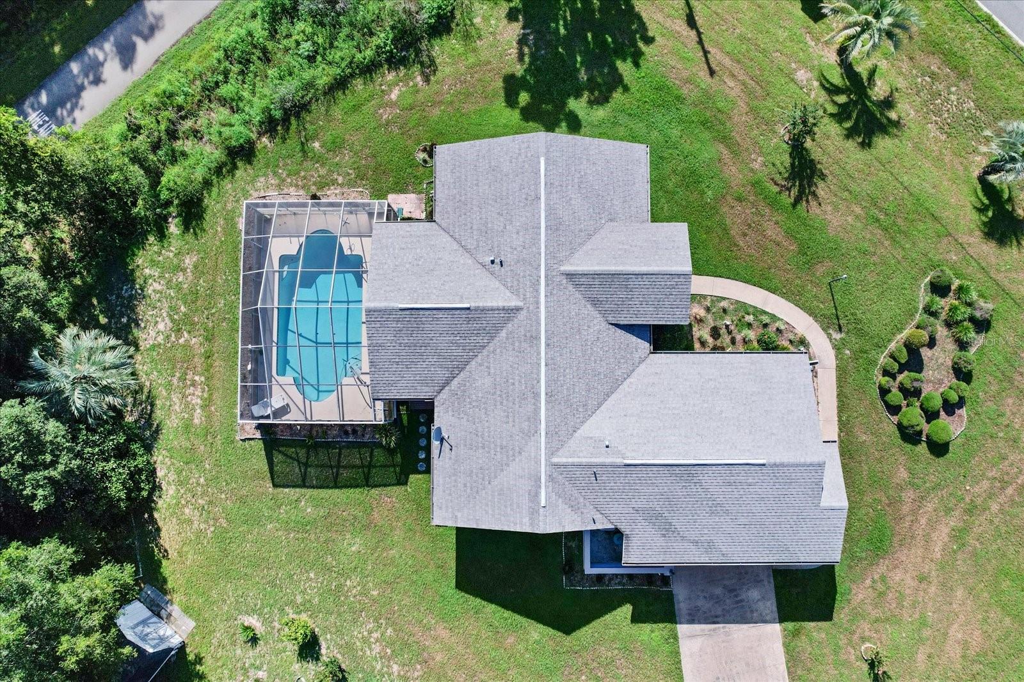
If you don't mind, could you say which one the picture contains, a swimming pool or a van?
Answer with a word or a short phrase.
swimming pool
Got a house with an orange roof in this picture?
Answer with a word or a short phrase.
No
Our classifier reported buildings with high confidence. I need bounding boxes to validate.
[110,594,184,665]
[365,131,847,567]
